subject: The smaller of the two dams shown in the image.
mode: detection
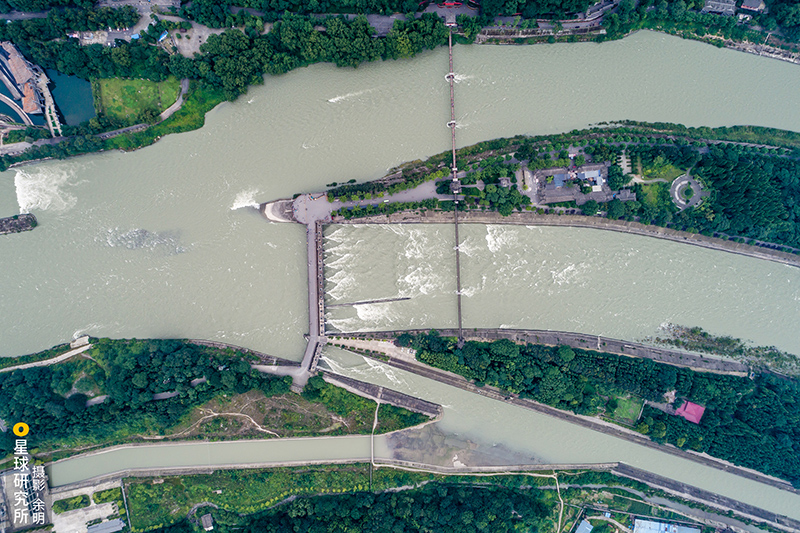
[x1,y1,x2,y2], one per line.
[298,334,327,373]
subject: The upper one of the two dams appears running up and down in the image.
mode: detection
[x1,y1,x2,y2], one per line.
[308,219,328,337]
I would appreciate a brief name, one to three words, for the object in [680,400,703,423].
house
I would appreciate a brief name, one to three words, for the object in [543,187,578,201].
building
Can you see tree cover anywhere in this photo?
Yes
